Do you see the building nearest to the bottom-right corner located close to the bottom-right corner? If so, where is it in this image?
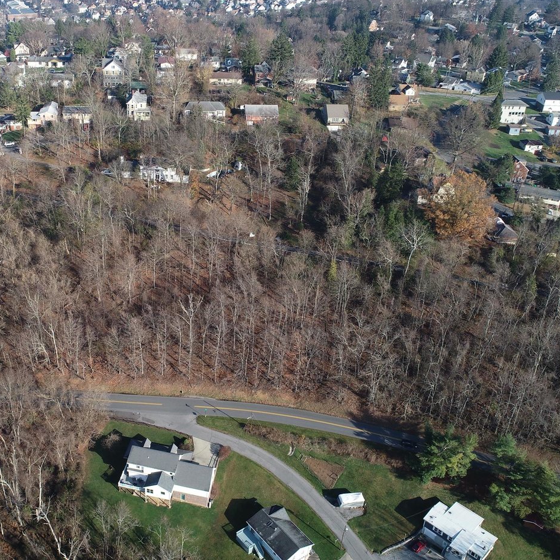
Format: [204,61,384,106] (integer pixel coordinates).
[423,496,504,560]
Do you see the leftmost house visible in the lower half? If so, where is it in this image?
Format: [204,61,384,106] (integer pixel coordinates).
[113,429,227,517]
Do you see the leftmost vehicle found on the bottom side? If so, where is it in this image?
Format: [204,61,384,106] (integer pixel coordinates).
[338,492,368,511]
